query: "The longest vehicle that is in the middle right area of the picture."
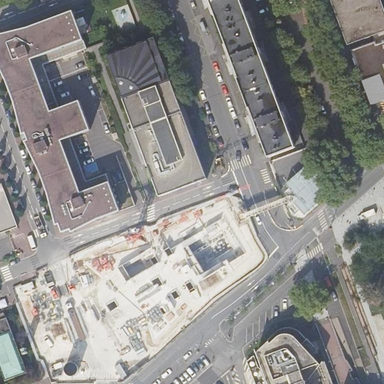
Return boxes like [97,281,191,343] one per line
[359,207,376,219]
